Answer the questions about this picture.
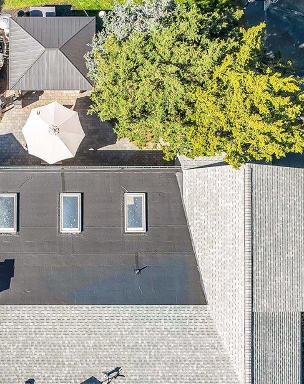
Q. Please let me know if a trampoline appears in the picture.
No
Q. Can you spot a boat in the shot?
No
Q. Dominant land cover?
buildings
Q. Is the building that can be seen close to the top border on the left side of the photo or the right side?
left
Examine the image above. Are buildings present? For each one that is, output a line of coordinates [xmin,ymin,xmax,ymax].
[0,154,304,384]
[9,15,95,102]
